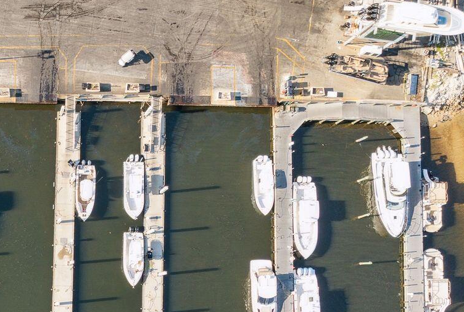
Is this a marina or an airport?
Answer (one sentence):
This looks like a marina.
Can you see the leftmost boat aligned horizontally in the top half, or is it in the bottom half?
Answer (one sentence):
The top half of the photo is where the leftmost boat aligned horizontally is.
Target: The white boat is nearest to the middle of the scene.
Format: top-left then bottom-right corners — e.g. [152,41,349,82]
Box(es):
[250,153,272,218]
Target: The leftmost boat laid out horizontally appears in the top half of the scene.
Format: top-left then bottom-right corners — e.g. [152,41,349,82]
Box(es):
[321,55,388,88]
